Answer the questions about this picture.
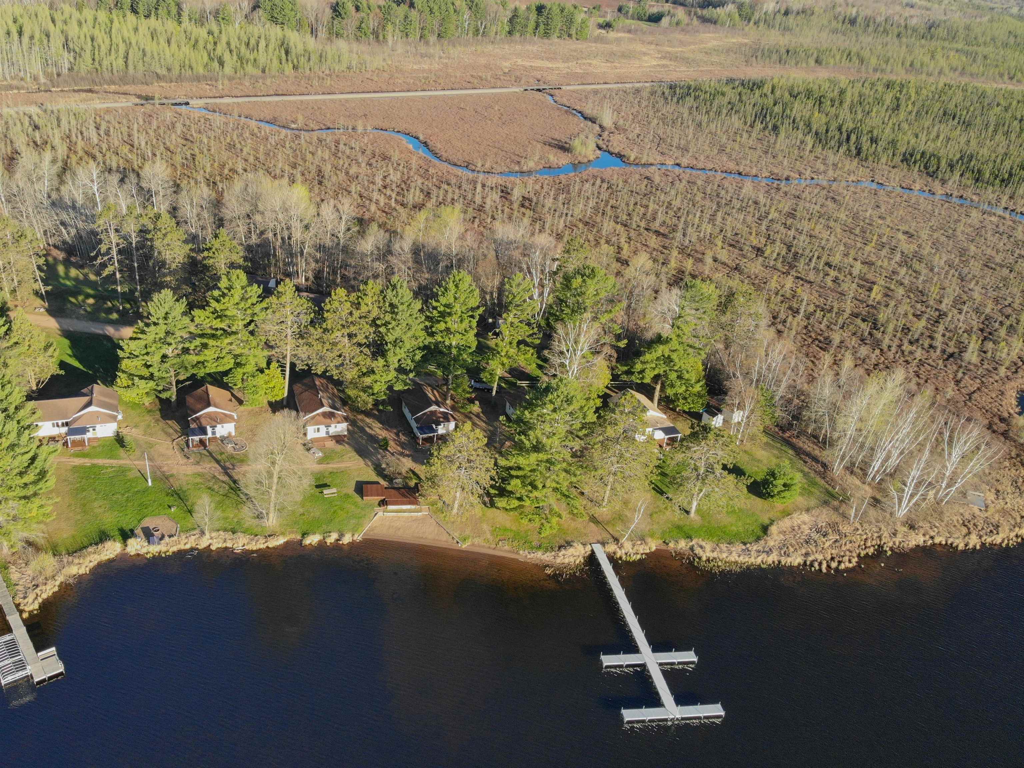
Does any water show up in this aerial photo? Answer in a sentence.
Yes, there's water in this view.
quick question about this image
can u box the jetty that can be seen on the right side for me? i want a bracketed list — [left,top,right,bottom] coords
[592,544,728,721]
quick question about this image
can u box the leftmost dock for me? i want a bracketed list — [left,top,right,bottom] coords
[0,588,64,685]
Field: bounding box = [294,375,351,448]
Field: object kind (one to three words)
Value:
building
